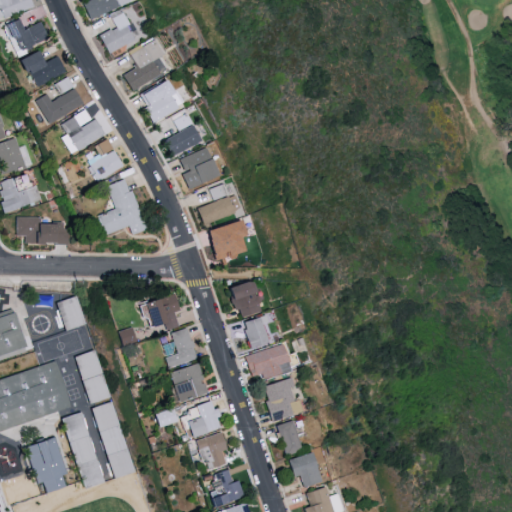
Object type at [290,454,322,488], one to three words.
house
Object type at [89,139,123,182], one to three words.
house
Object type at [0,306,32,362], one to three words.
building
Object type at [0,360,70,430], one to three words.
building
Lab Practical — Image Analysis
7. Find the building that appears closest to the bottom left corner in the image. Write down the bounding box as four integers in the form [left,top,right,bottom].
[28,438,69,494]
